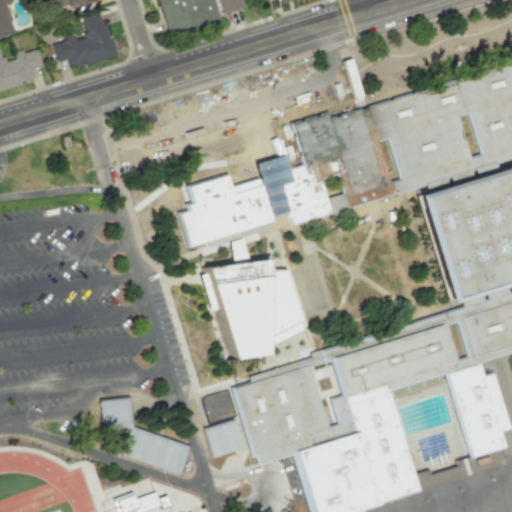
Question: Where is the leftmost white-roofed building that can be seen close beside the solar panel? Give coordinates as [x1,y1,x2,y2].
[292,386,422,512]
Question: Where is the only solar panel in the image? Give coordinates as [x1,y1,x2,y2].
[420,434,449,460]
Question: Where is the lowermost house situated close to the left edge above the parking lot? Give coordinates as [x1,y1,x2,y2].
[0,44,47,94]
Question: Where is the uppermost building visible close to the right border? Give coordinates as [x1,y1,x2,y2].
[366,66,512,194]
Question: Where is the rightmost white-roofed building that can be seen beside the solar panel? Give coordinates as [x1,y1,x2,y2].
[444,365,512,460]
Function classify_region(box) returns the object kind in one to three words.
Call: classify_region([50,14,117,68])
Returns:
house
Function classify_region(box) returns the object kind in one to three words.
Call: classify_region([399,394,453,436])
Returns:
swimming pool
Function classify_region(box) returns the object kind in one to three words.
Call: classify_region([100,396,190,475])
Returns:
shed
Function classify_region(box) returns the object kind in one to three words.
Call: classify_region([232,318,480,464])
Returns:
building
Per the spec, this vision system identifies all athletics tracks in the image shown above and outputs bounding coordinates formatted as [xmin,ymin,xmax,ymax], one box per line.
[0,454,96,512]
